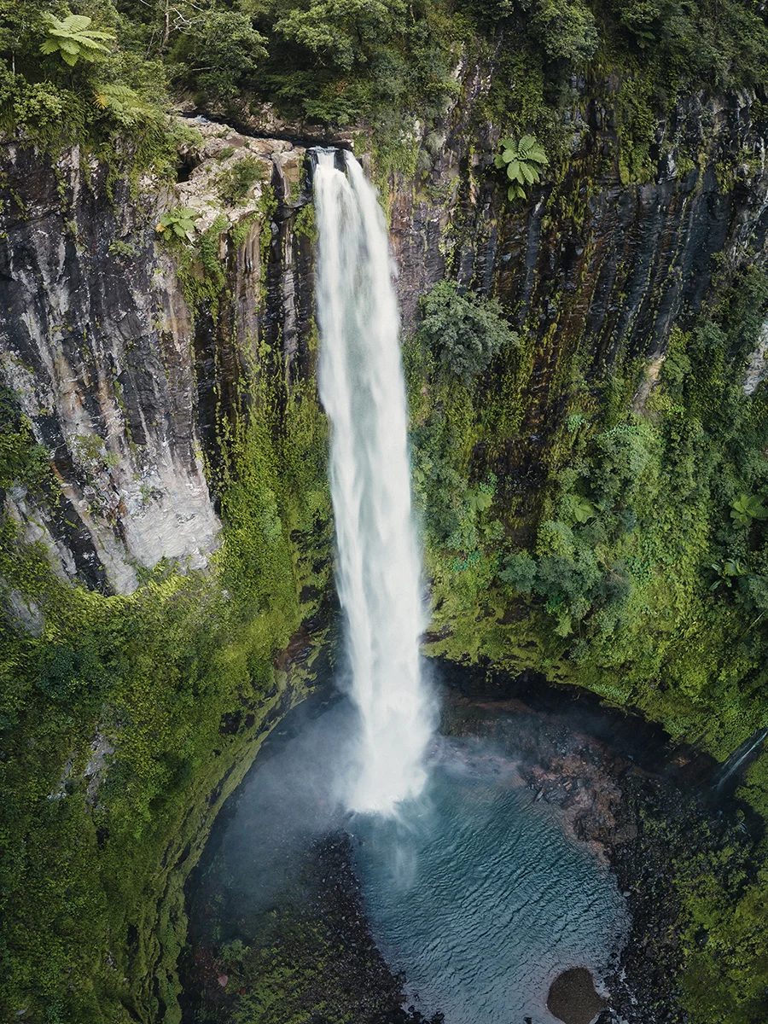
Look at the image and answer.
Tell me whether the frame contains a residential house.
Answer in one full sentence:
No, I can see no residential house in this picture.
